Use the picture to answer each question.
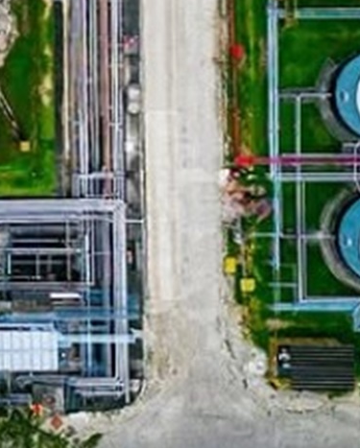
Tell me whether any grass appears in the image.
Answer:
Yes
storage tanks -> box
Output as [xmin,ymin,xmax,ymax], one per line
[320,39,360,152]
[321,183,360,296]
